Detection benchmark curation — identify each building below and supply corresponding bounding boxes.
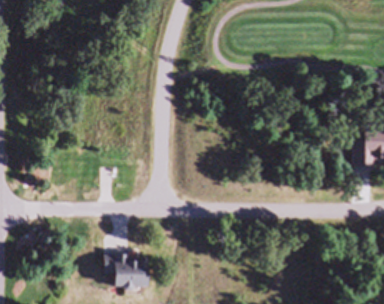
[364,132,384,166]
[104,254,149,291]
